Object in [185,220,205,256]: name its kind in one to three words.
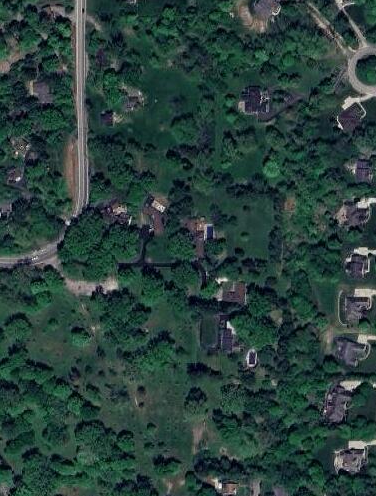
house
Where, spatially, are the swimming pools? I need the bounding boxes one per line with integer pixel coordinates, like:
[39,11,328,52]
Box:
[247,350,256,366]
[205,225,214,239]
